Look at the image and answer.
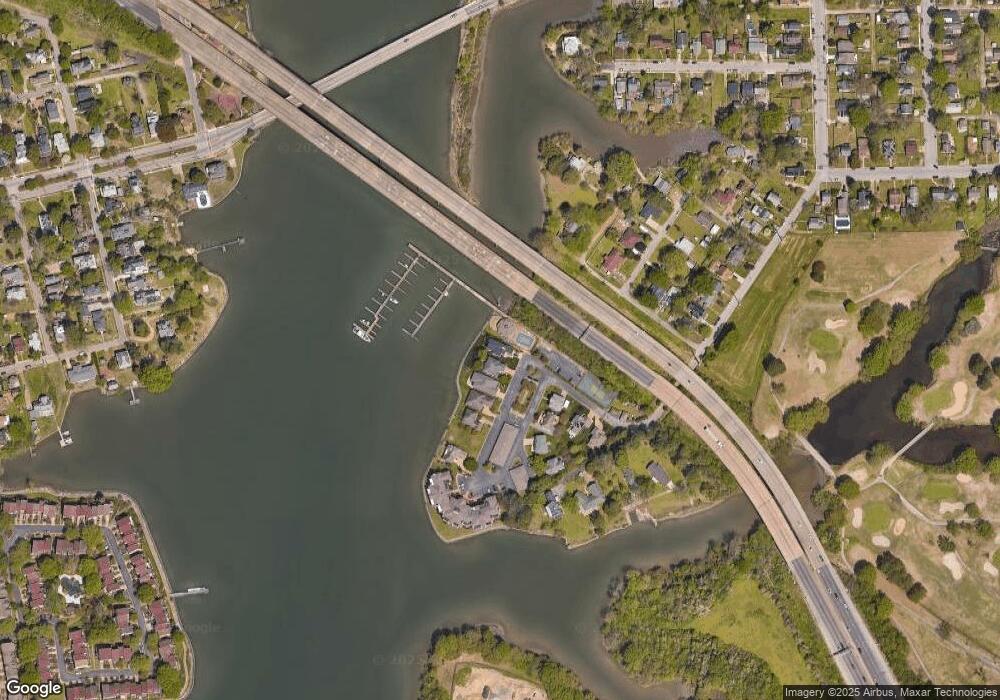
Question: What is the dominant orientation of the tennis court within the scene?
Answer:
on a diagonal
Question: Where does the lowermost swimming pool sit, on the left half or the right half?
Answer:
left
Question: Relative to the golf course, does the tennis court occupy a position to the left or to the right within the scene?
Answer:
left of it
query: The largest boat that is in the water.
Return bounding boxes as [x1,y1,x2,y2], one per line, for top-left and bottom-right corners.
[353,324,369,340]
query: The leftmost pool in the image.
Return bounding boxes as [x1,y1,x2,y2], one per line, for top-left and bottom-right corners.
[59,574,82,604]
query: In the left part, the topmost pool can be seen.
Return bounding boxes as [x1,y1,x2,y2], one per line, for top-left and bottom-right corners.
[196,191,209,208]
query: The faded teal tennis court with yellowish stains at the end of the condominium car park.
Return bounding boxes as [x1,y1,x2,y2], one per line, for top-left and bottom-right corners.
[578,374,618,409]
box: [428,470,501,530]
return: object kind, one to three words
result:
building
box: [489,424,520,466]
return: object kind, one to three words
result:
building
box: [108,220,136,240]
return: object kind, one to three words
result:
house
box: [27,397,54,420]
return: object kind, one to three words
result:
house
